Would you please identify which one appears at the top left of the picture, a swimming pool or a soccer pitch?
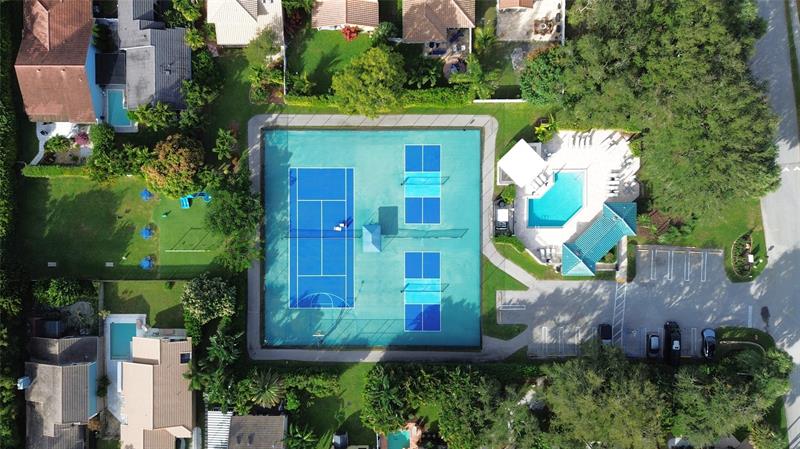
swimming pool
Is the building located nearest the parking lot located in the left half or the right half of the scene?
right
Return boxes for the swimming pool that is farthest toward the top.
[105,89,131,127]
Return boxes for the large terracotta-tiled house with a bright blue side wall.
[12,0,104,122]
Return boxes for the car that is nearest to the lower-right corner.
[703,329,719,358]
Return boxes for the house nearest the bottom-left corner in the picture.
[17,335,103,449]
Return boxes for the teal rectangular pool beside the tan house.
[109,322,138,361]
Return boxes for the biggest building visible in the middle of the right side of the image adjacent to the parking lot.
[561,201,638,276]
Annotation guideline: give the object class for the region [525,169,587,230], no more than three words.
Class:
swimming pool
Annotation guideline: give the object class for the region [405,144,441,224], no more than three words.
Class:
sports court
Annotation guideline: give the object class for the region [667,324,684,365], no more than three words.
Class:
vehicle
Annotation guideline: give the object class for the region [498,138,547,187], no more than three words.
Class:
building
